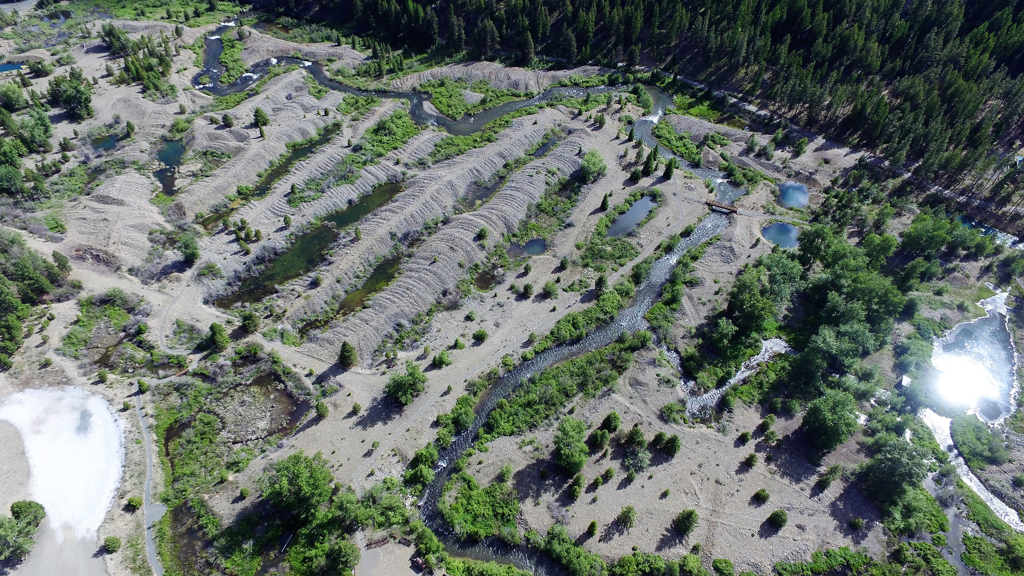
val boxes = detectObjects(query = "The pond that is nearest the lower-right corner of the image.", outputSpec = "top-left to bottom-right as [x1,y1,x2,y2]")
[928,296,1020,429]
